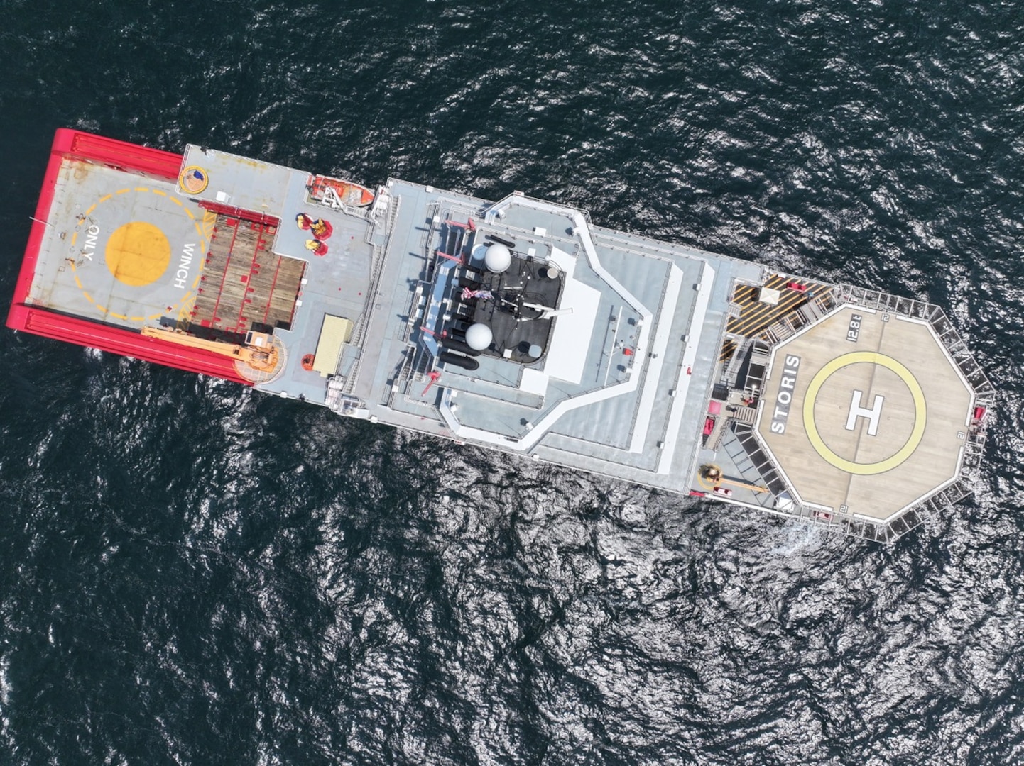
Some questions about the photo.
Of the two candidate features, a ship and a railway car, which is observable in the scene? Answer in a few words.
ship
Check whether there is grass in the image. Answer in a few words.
No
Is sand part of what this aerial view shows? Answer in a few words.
No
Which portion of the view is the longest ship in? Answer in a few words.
center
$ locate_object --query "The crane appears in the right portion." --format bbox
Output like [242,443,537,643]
[698,465,772,494]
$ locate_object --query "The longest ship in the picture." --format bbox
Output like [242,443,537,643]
[8,128,995,543]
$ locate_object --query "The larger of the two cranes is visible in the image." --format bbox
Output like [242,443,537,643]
[140,322,287,385]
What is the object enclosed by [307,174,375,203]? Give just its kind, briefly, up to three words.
boat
